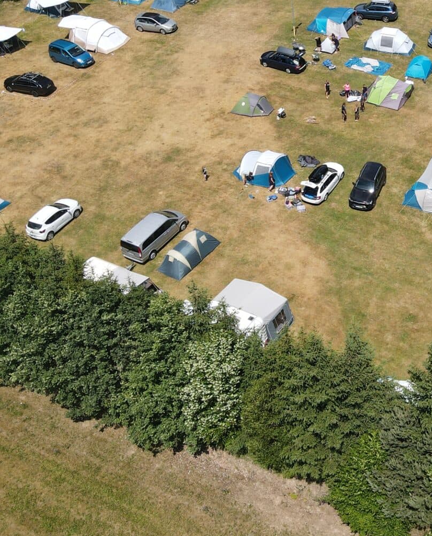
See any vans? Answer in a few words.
Yes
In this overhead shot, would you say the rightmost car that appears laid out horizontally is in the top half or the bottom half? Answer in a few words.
top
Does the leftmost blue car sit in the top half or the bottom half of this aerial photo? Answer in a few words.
top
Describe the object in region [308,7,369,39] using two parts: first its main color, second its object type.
blue tent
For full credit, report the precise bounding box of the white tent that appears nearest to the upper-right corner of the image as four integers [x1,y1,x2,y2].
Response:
[366,28,415,63]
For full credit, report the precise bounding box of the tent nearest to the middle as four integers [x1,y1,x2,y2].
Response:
[158,234,221,281]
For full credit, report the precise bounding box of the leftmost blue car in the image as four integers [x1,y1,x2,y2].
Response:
[45,36,94,68]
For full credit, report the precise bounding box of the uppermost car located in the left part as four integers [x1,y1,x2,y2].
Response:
[129,11,178,34]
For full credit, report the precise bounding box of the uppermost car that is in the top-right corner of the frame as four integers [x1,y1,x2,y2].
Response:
[352,0,400,22]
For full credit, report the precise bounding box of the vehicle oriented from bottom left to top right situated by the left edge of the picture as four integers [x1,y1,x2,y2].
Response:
[16,199,82,246]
